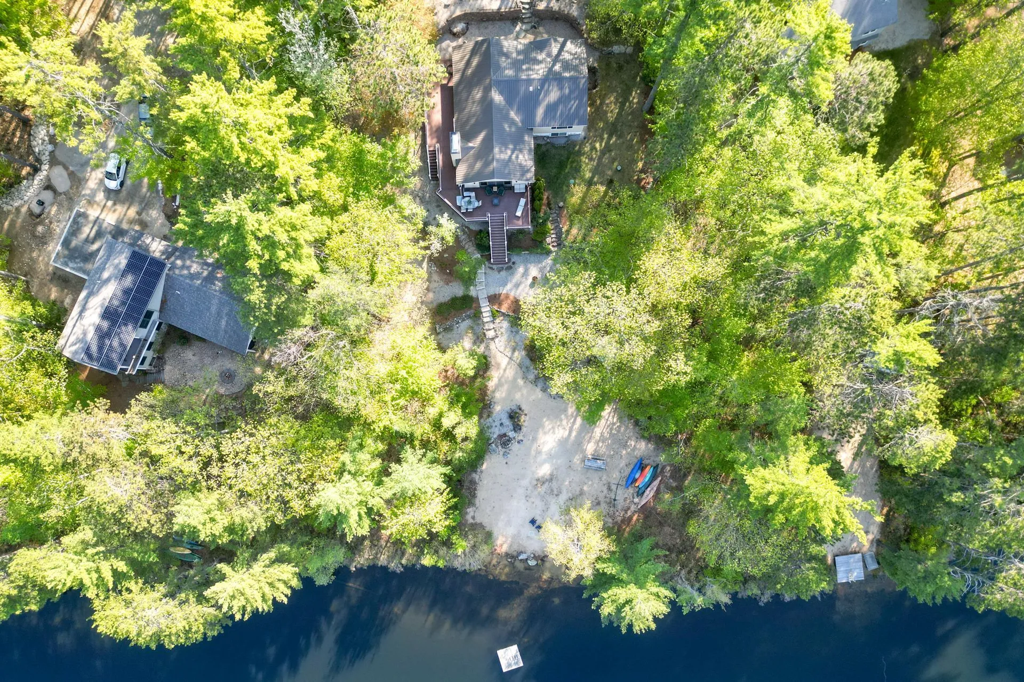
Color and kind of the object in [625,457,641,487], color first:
blue boat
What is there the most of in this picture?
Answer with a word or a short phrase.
trees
